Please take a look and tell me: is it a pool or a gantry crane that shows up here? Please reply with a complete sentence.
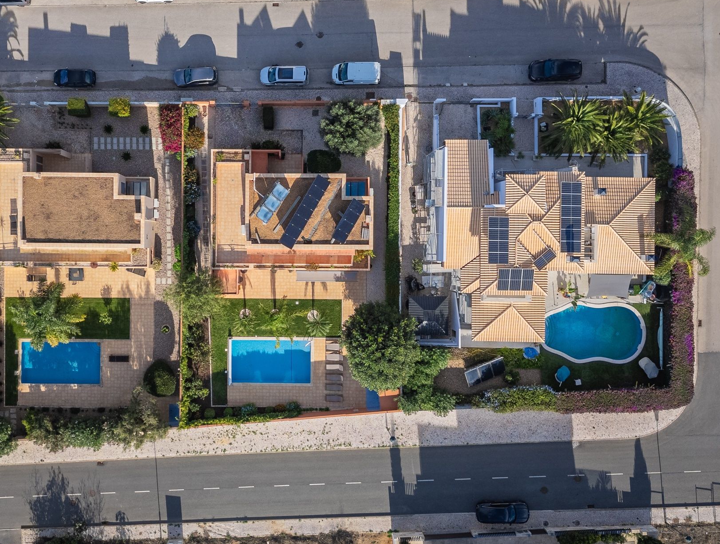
Visible in the photo is a pool.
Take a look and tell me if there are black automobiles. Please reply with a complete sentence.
Yes, I can see a black automobile in this picture.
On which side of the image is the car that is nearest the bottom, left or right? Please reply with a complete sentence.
It is on the right.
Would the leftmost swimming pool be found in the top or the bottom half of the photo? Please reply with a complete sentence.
The bottom half of the photo is where the leftmost swimming pool is.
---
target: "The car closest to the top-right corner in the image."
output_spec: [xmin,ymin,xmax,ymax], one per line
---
[530,59,580,82]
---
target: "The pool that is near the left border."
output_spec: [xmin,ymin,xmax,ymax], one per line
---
[18,339,104,388]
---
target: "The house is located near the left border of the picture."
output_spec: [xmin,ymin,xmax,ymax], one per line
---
[0,148,156,268]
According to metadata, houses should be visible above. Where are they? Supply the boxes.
[437,140,657,348]
[0,148,156,268]
[210,149,374,294]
